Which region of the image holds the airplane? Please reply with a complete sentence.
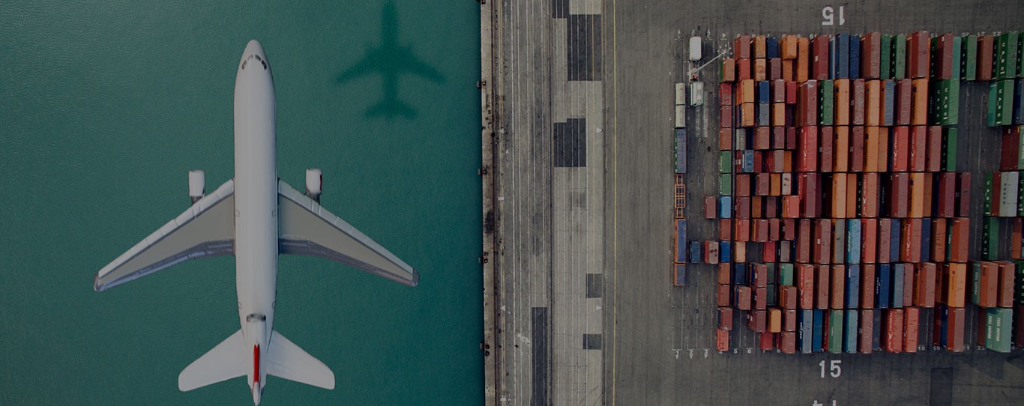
The airplane sits in the left section of the image.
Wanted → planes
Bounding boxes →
[94,38,419,406]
